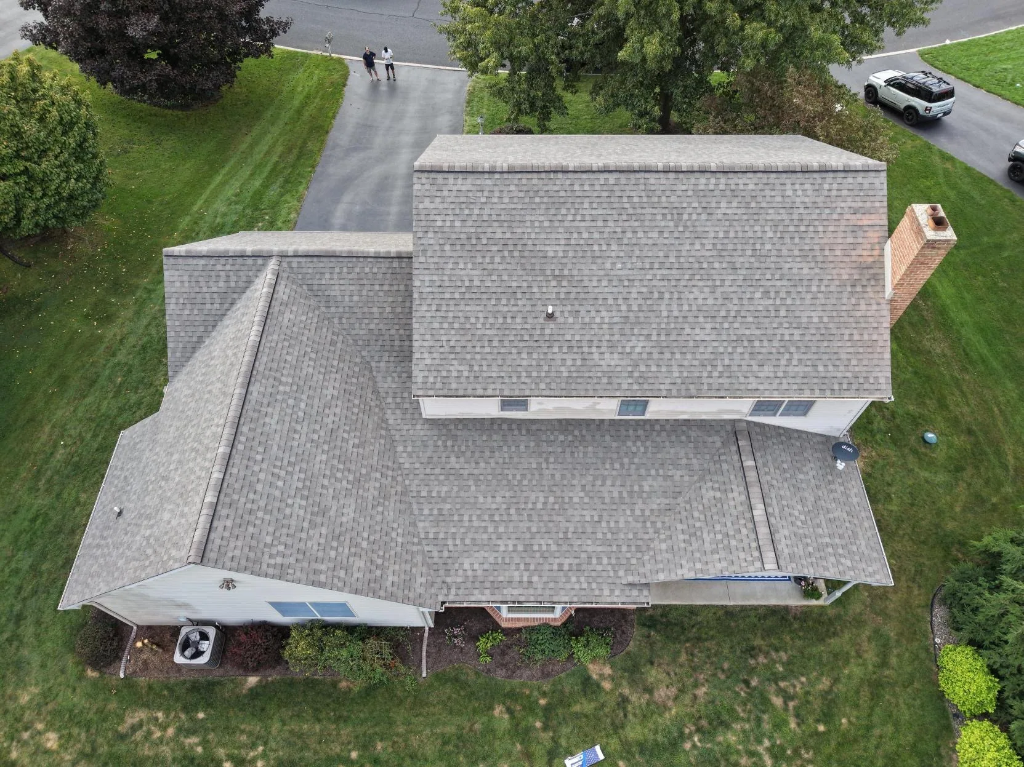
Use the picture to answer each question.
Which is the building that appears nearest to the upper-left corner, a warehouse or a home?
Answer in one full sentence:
Looking closely, the building that appears nearest to the upper-left corner is a home.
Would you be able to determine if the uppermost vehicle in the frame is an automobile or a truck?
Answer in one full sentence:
The uppermost vehicle appears to be an automobile.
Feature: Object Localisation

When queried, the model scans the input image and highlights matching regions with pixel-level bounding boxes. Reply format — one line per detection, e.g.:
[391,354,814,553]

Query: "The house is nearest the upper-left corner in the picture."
[54,133,959,632]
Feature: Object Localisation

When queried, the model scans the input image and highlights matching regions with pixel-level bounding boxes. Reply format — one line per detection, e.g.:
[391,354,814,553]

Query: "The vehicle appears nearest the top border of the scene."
[866,69,962,129]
